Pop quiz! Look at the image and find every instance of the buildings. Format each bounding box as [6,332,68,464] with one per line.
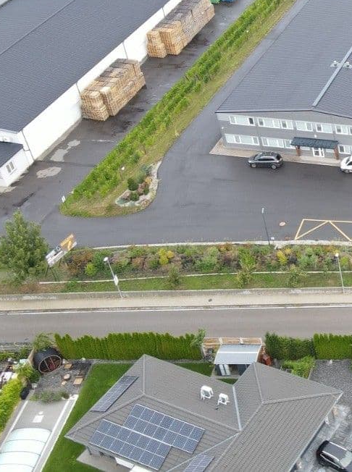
[63,353,343,472]
[214,0,352,169]
[0,0,174,165]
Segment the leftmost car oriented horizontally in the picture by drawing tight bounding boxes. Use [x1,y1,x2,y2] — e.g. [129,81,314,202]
[246,152,284,169]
